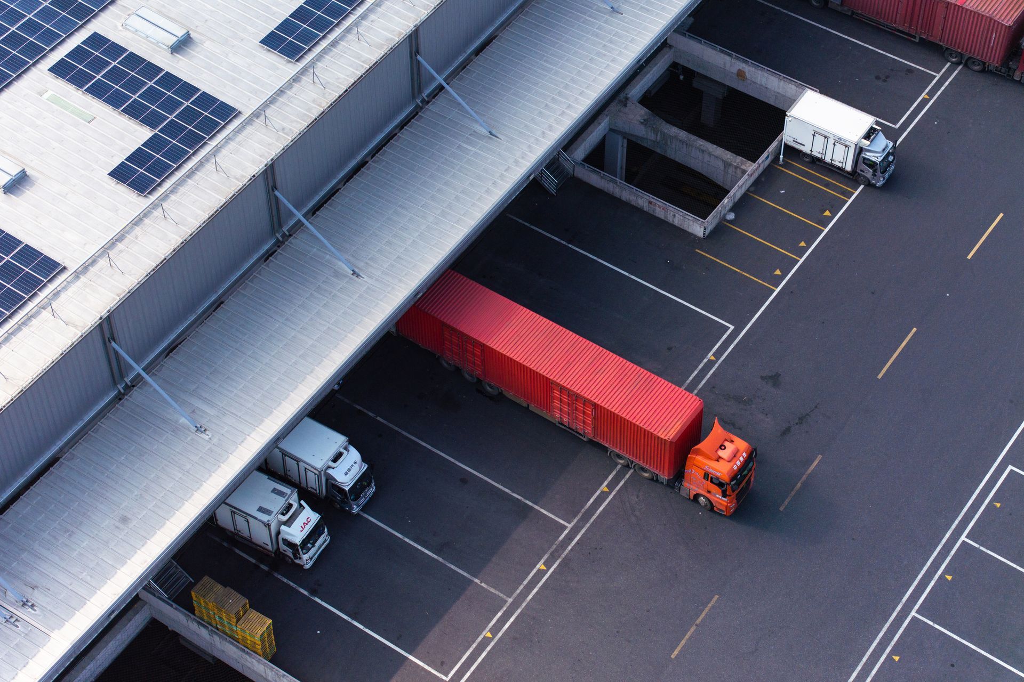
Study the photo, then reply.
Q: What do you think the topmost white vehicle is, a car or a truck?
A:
truck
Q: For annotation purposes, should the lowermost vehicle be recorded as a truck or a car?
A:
truck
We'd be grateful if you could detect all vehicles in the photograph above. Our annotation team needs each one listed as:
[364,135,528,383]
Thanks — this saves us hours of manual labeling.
[260,416,379,518]
[784,88,898,190]
[210,469,330,572]
[815,0,1024,86]
[389,270,764,521]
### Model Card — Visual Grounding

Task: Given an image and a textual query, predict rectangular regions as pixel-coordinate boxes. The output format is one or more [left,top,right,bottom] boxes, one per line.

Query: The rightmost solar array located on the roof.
[258,0,359,57]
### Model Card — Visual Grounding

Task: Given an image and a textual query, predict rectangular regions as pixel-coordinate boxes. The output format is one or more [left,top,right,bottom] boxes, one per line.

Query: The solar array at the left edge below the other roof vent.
[0,226,63,317]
